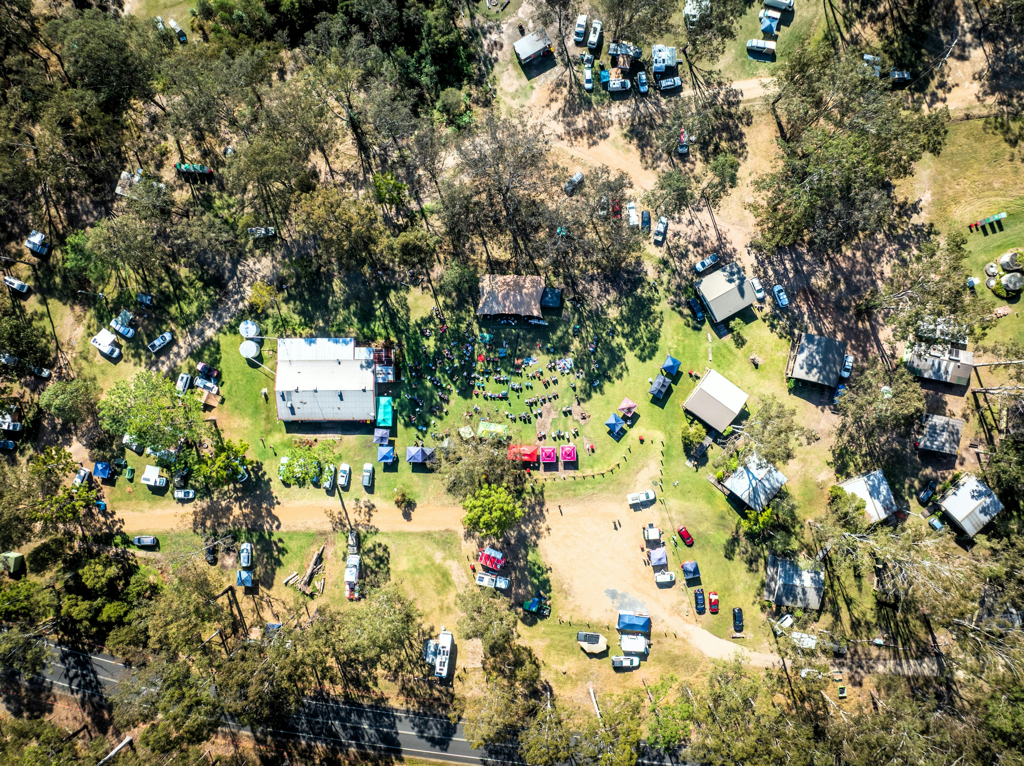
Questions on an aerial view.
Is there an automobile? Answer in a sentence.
Yes, looking at the shot, I can spot an automobile.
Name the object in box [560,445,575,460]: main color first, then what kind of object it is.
pink gazebo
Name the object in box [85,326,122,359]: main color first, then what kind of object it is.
white camper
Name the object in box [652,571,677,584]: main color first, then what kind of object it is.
white vehicle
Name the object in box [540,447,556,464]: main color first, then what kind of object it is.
pink gazebo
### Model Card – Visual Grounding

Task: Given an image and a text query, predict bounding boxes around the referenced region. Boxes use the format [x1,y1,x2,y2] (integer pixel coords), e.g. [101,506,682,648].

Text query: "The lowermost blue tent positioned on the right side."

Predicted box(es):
[618,611,648,631]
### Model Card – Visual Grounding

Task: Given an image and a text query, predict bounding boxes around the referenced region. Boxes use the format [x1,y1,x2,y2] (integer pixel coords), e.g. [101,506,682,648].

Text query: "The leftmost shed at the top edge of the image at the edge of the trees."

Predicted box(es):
[514,28,551,65]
